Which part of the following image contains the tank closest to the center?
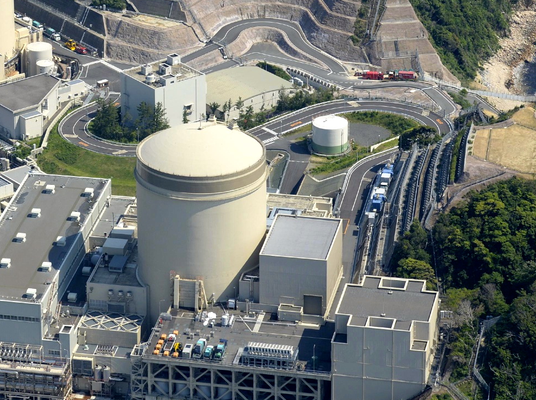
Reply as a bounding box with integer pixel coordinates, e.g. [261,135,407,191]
[312,113,348,153]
